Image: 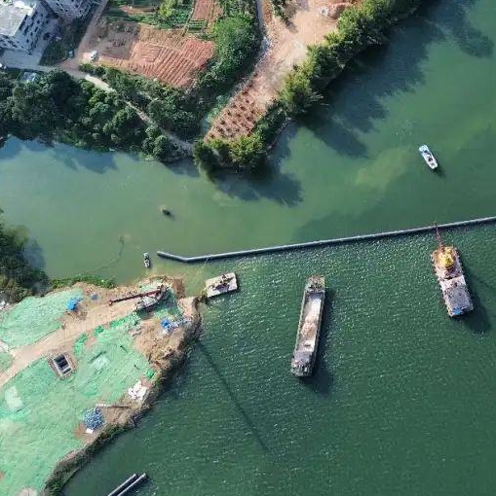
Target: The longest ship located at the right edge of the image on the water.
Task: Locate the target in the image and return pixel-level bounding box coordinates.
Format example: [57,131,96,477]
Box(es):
[432,223,473,317]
